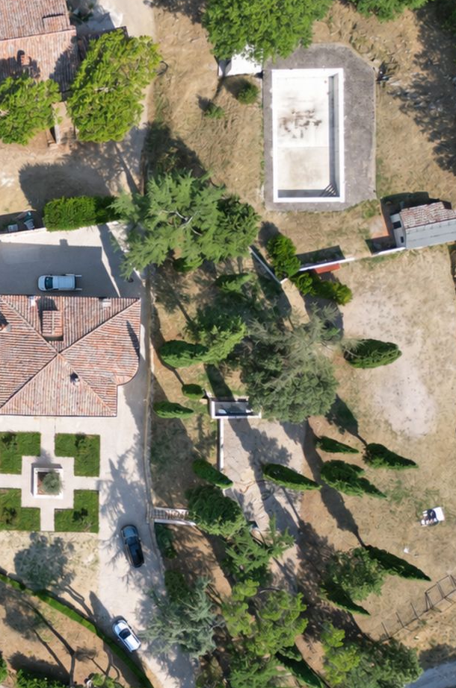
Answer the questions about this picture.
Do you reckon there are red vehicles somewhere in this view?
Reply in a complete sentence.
No, there isn't any red vehicle down there.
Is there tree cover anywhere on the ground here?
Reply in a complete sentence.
Yes, there's tree cover in this view.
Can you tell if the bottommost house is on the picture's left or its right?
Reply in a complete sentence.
The bottommost house is on the left side of the image.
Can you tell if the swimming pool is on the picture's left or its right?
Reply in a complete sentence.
The swimming pool is on the right side of the image.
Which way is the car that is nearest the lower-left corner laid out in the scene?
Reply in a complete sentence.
I'd say the car that is nearest the lower-left corner is aligned diagonally in the picture.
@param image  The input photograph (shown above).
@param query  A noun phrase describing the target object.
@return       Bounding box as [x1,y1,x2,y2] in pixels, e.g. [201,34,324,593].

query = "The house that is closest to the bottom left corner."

[0,294,142,417]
